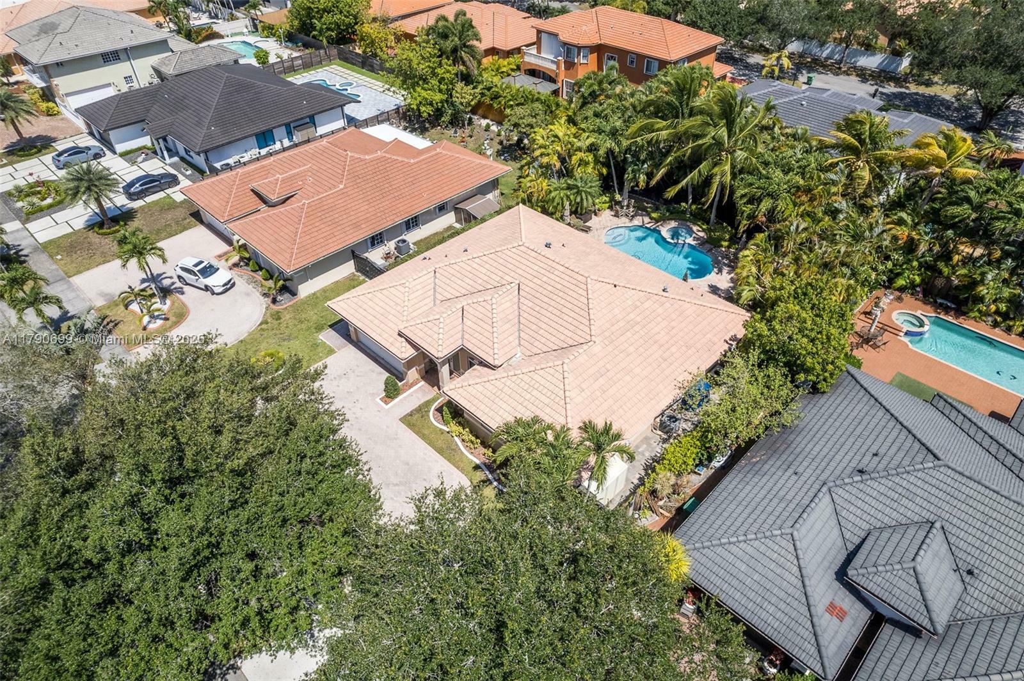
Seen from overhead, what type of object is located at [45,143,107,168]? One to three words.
car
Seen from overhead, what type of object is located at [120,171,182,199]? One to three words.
car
